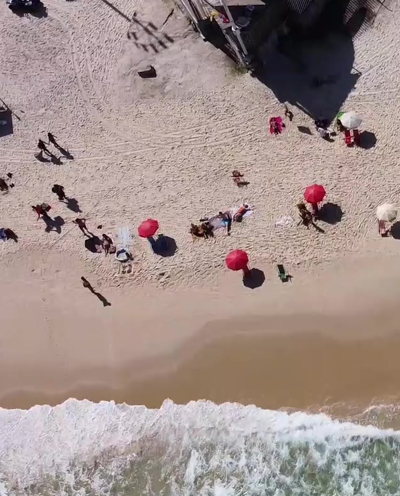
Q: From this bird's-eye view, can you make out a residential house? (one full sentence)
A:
No, no residential house is visible in the view.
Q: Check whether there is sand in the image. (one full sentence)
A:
Yes, there is sand in the image.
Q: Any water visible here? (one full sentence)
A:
Yes, some water is visible.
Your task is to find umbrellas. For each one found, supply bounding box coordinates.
[341,115,363,133]
[377,208,400,225]
[304,188,328,206]
[226,251,252,274]
[139,222,161,241]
